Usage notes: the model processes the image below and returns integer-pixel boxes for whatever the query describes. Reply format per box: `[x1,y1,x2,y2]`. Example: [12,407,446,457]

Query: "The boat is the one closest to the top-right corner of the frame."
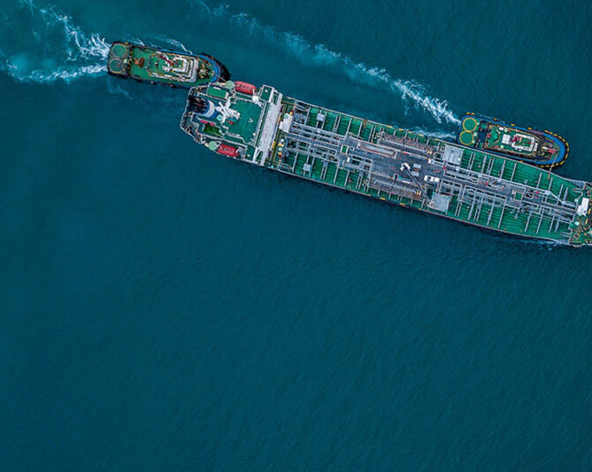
[456,112,568,169]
